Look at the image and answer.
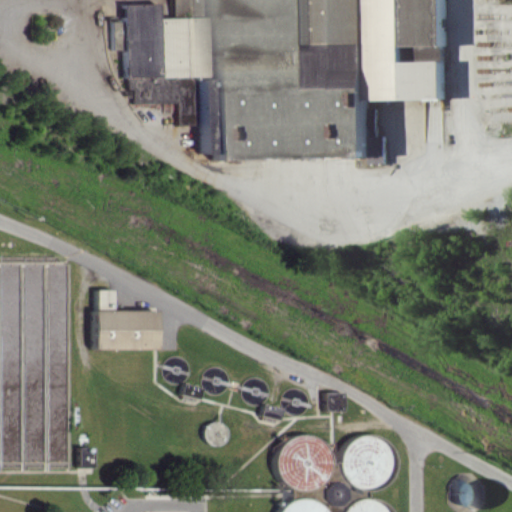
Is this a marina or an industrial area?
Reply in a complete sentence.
This image shows an industrial area.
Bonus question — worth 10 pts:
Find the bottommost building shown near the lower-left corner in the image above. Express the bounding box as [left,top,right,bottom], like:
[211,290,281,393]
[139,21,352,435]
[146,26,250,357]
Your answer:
[82,446,98,468]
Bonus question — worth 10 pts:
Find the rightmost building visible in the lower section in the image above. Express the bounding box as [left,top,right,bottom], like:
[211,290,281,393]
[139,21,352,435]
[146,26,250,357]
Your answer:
[328,392,349,412]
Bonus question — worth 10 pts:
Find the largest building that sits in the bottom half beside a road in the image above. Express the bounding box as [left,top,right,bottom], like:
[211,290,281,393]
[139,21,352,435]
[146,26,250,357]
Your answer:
[97,310,166,350]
